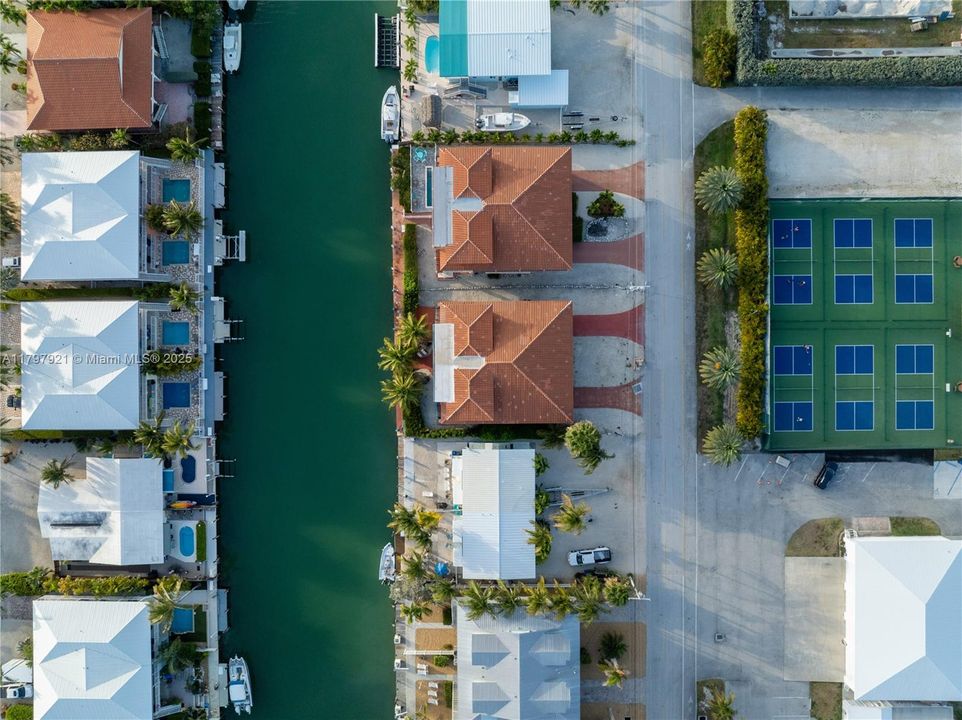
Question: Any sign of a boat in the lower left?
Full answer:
Yes, I can see a boat in the lower left.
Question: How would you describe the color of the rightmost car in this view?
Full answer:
In this view, the rightmost car is black.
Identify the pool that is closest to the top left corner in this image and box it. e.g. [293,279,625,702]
[161,178,192,203]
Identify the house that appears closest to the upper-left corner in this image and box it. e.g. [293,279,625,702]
[26,7,173,131]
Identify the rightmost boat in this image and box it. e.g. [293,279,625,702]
[473,103,530,127]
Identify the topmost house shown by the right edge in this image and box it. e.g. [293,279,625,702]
[843,535,962,700]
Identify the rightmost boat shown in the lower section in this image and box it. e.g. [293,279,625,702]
[378,541,395,587]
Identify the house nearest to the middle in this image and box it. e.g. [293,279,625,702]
[433,301,573,423]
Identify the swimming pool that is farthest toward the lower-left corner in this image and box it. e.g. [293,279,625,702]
[169,607,195,635]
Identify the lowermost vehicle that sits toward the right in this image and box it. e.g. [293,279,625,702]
[568,548,612,569]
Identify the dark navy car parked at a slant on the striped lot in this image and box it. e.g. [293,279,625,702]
[817,460,840,491]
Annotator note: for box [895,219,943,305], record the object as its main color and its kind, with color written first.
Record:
blue sports court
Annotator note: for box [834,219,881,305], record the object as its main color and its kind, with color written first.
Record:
blue sports court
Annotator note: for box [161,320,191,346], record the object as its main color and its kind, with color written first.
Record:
blue swimming pool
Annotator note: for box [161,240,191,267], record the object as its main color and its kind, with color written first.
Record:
blue swimming pool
